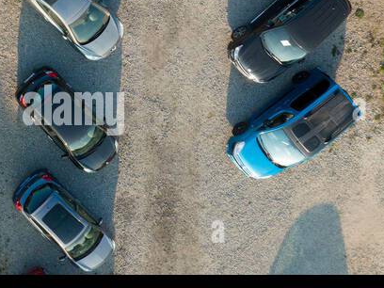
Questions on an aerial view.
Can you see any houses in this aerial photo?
No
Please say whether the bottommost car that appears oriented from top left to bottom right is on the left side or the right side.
left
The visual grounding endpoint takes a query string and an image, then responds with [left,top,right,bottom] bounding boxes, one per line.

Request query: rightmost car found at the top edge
[227,0,356,80]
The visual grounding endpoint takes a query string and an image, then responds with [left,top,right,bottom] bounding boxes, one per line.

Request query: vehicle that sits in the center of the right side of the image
[226,69,364,178]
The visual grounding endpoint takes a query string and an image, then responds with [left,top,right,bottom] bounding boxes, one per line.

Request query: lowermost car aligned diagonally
[10,161,115,269]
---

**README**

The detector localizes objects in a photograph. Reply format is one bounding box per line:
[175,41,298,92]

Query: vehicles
[10,161,115,269]
[18,66,117,172]
[28,0,122,59]
[227,0,356,80]
[226,69,364,178]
